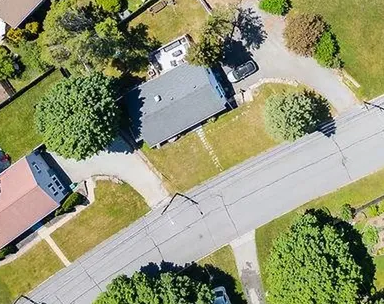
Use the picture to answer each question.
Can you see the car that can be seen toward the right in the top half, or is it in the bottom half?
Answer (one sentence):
Seen from above, the car that can be seen toward the right lies in the top half of the view.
